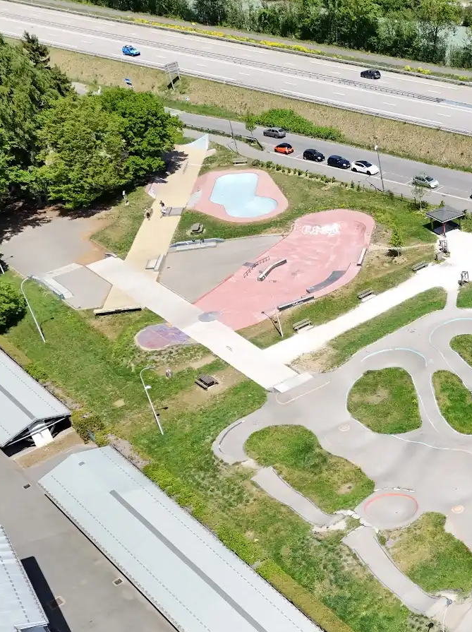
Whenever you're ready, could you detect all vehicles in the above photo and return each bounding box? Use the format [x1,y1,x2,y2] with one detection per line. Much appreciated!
[262,125,287,137]
[348,160,378,174]
[272,140,294,153]
[300,148,325,162]
[410,171,439,189]
[324,152,351,169]
[358,67,380,78]
[121,45,140,55]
